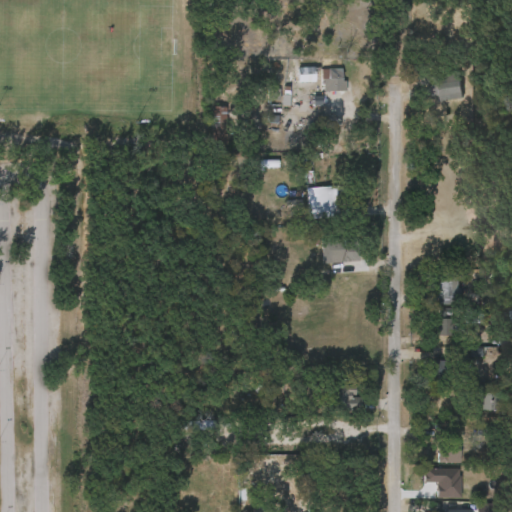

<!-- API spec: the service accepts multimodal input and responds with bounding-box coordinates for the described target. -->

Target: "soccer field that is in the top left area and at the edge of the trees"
[0,0,174,111]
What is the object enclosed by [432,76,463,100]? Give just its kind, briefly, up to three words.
house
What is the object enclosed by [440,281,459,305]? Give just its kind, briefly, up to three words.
house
